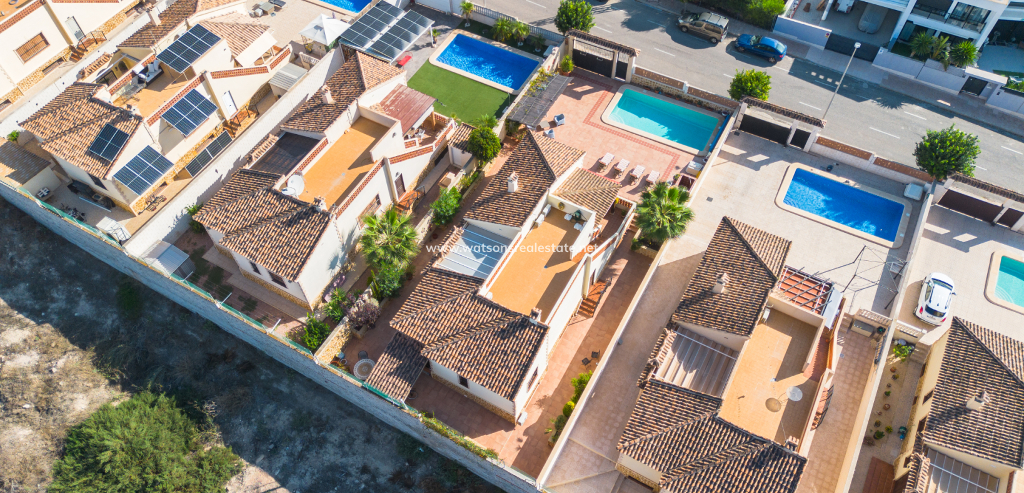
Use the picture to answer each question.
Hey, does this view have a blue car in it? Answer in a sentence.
Yes, I can see a blue car in this picture.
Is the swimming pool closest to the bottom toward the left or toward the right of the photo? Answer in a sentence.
The swimming pool closest to the bottom is on the right side of the image.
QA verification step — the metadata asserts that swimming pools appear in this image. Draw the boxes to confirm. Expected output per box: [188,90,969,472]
[427,29,540,93]
[309,0,375,18]
[773,161,913,249]
[984,249,1024,313]
[600,83,726,158]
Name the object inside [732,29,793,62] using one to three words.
car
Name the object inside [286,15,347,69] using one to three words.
gazebo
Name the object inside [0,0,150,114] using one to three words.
house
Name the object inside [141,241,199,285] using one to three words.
shed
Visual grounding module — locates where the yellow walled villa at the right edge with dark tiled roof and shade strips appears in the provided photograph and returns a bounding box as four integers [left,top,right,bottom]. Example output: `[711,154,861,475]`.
[894,315,1024,493]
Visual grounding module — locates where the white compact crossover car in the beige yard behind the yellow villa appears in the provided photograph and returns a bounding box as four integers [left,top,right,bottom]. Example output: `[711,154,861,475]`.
[919,268,964,330]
